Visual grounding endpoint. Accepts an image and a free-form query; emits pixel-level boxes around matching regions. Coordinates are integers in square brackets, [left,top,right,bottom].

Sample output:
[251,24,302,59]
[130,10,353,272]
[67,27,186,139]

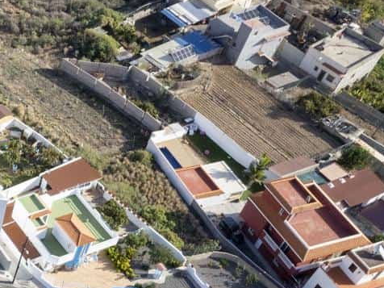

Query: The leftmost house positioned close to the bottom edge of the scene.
[5,193,116,279]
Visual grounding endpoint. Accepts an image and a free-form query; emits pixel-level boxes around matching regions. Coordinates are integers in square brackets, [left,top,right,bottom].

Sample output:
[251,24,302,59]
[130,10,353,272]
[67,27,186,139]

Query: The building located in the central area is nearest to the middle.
[151,122,188,151]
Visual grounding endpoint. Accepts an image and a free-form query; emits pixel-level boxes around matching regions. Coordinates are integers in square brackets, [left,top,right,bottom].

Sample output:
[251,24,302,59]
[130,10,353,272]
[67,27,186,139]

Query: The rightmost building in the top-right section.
[300,22,384,90]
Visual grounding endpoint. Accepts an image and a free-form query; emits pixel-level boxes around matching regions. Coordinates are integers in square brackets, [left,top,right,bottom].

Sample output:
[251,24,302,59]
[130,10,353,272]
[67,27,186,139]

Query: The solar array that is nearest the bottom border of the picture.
[170,45,197,61]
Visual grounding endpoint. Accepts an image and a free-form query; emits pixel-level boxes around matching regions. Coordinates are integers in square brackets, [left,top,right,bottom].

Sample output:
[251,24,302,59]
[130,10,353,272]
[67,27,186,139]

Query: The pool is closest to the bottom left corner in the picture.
[161,149,184,171]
